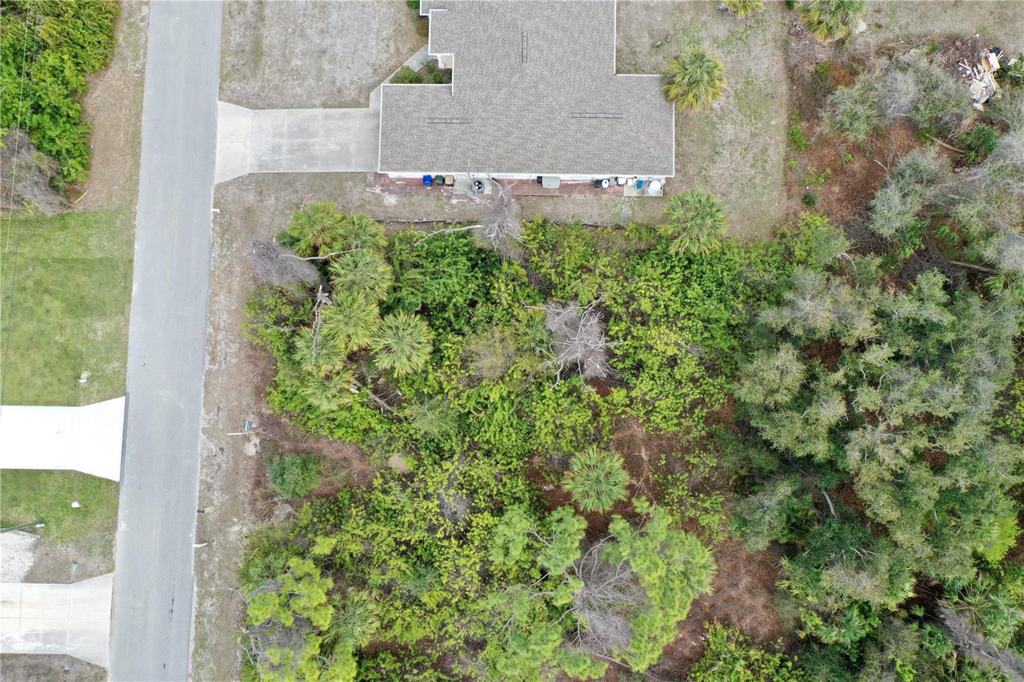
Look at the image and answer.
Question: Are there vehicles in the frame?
No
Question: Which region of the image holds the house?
top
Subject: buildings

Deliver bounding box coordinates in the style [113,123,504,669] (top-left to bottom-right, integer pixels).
[377,0,676,184]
